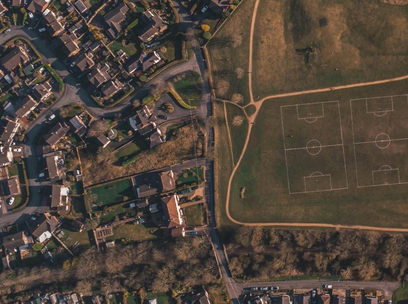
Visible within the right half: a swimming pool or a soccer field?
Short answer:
soccer field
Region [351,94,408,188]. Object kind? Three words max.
soccer field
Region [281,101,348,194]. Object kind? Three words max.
soccer field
